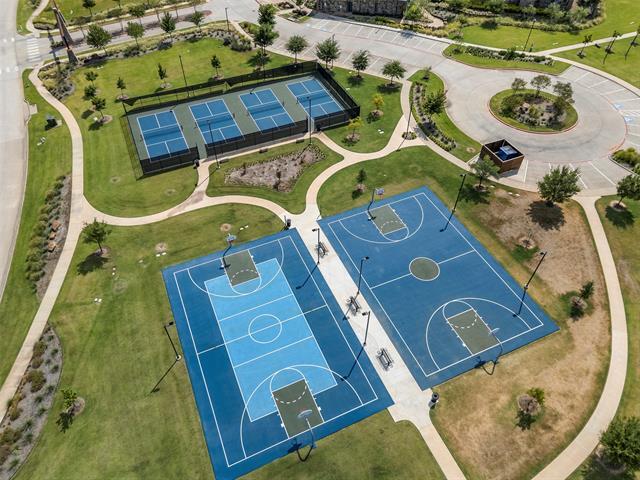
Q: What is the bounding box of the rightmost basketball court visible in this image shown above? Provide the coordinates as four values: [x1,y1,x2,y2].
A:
[319,185,559,390]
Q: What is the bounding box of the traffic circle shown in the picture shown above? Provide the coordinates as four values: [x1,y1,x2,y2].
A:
[489,88,578,134]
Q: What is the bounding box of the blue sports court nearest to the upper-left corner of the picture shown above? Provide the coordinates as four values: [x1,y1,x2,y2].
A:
[138,110,188,157]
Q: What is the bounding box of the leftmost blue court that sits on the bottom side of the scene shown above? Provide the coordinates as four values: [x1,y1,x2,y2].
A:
[162,227,396,480]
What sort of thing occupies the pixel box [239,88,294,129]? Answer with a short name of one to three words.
sports court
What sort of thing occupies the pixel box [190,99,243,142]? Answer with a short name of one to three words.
sports court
